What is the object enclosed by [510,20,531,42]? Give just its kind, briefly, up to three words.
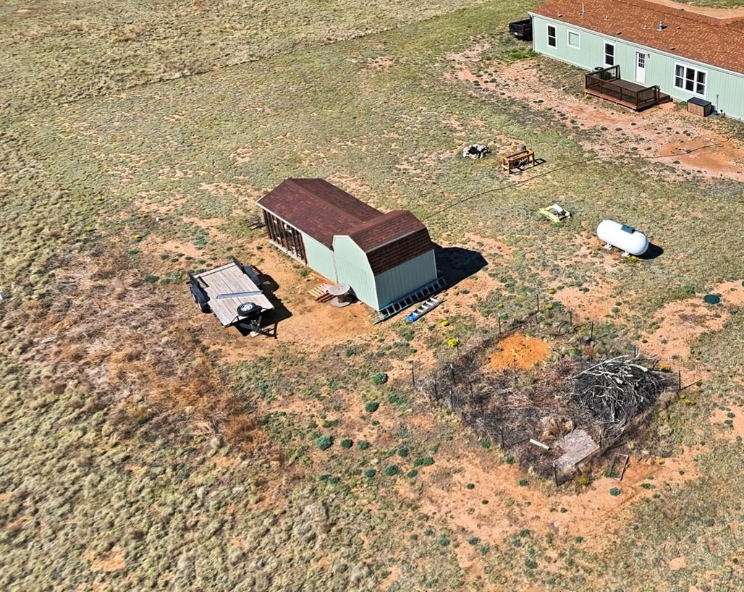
truck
